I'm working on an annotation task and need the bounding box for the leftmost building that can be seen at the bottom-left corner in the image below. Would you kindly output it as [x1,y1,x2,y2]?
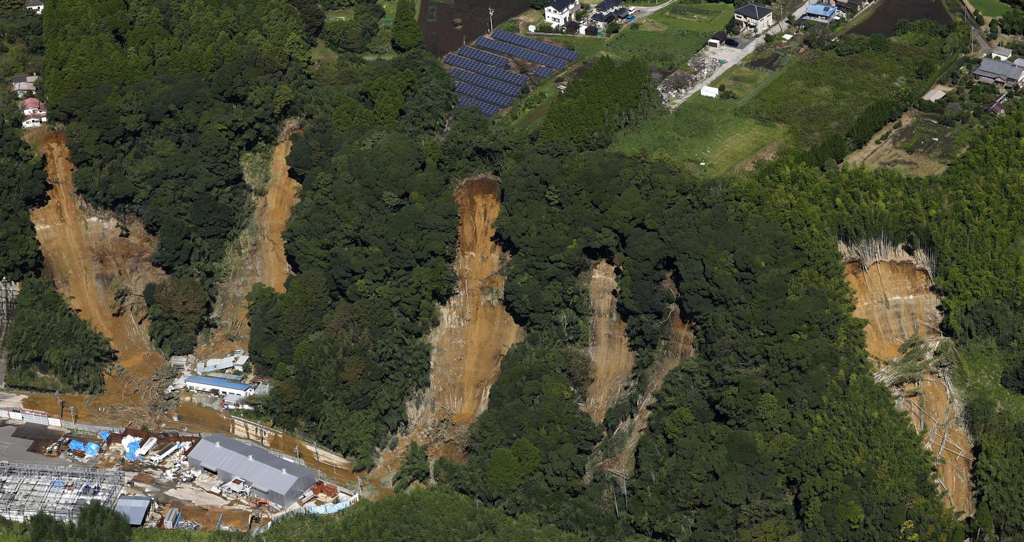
[0,461,126,522]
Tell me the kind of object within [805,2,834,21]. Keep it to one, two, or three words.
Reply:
house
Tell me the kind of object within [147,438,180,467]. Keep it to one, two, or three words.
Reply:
truck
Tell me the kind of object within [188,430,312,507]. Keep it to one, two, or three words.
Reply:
building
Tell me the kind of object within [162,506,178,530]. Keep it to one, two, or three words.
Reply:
vehicle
